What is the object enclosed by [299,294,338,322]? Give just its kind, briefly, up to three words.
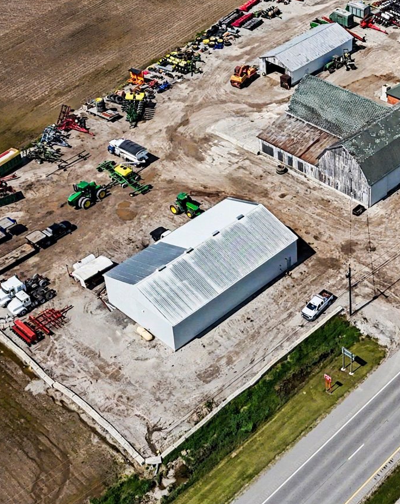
truck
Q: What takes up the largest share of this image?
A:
paved ground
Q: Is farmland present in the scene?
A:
Yes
